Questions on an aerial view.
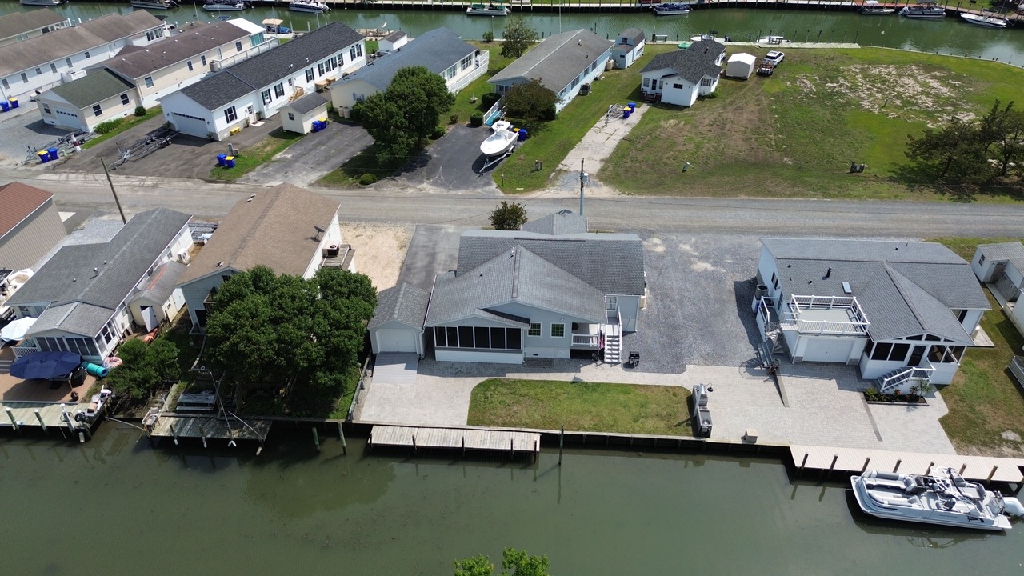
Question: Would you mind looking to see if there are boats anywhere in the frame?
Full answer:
Yes, I can see a boat in this picture.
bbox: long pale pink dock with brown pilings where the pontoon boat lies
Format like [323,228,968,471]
[790,444,1024,497]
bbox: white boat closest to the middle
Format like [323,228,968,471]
[487,119,529,156]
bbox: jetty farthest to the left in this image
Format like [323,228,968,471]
[0,404,77,431]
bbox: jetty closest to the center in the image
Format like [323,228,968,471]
[368,426,540,470]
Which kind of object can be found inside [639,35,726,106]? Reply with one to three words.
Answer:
house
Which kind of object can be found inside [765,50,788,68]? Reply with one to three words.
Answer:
car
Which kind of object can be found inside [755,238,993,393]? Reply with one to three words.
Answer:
house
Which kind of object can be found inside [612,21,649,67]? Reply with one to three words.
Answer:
shed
